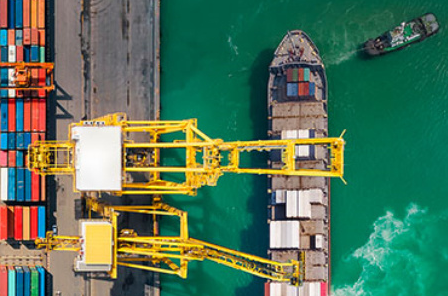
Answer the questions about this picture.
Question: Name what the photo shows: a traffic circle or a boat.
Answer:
boat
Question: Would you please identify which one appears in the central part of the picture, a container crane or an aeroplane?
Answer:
container crane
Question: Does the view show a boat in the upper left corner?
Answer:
No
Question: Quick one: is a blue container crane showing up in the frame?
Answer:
No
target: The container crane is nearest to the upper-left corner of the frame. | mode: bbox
[0,61,54,99]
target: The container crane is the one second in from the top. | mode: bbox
[29,109,355,197]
